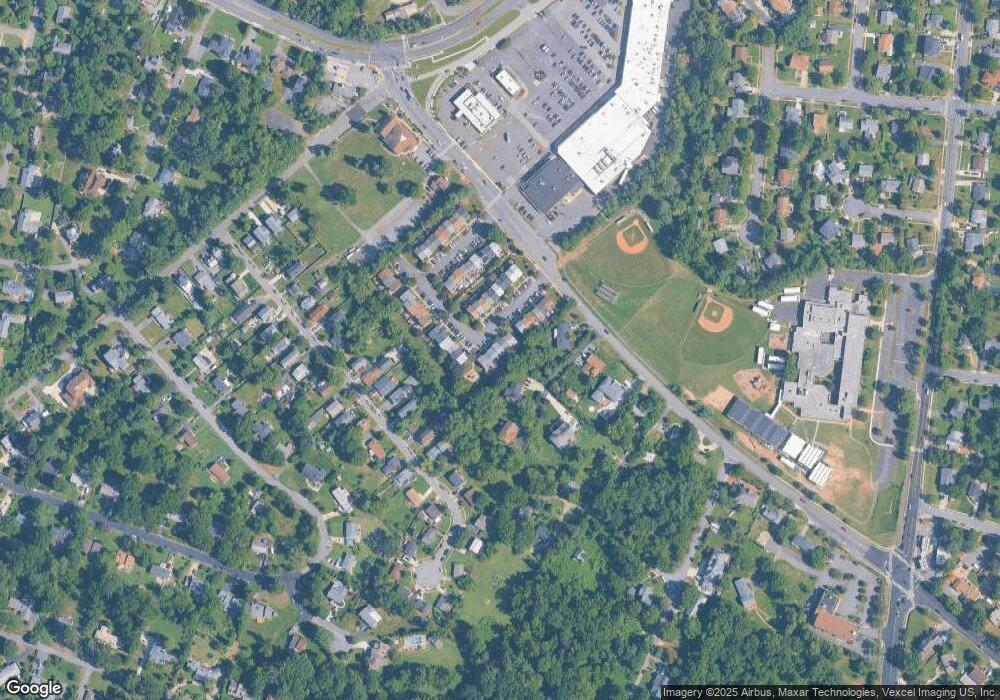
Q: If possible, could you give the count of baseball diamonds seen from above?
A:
two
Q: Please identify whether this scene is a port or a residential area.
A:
residential area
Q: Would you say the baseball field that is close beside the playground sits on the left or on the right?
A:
right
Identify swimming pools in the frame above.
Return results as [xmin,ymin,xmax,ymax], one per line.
[402,633,428,647]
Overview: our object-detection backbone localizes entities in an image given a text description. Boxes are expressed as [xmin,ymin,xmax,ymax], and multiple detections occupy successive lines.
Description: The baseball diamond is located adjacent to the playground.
[684,292,779,372]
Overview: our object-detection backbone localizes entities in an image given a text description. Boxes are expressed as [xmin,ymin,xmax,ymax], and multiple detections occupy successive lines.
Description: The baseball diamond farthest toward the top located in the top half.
[582,216,677,289]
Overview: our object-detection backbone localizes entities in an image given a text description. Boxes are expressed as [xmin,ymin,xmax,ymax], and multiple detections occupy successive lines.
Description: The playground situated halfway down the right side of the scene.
[733,370,777,402]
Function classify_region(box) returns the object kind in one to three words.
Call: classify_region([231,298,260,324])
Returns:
house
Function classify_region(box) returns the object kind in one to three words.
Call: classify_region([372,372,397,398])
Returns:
house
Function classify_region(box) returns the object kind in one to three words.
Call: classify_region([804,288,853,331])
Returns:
building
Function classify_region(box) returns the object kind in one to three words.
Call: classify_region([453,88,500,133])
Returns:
building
